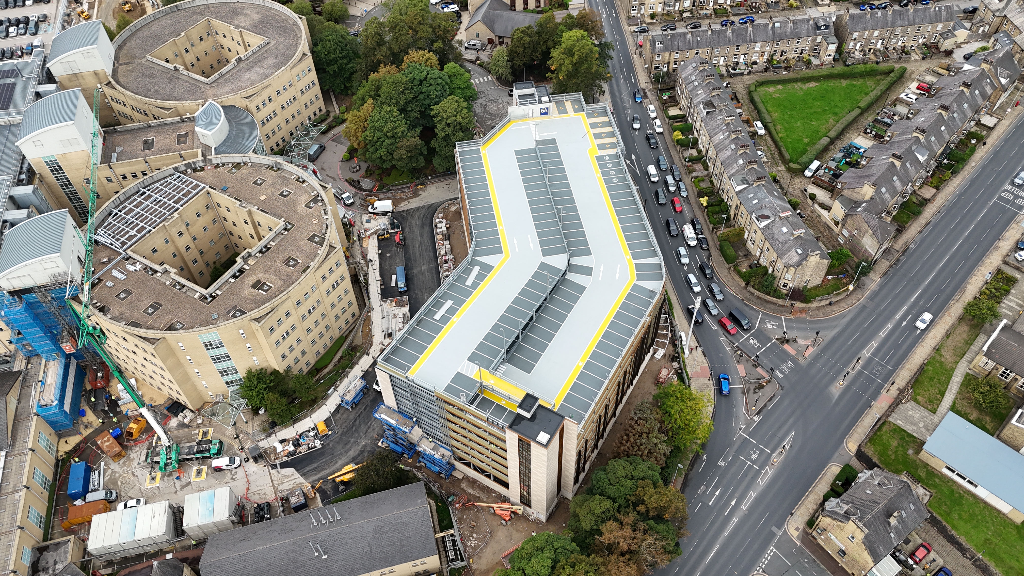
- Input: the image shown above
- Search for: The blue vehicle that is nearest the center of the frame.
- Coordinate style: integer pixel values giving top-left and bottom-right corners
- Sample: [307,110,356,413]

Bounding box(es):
[395,262,408,292]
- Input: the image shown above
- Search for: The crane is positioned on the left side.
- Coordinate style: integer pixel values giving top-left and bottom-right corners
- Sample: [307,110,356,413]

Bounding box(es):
[65,87,224,487]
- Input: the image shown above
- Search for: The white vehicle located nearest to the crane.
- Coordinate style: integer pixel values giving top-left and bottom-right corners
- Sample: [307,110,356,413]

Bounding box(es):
[207,454,243,473]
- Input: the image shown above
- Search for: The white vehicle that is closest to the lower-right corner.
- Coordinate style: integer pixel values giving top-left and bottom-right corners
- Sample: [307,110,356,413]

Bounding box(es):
[915,310,933,330]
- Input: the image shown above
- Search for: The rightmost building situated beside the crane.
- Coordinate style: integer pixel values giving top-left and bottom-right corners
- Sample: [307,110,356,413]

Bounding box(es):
[375,72,664,527]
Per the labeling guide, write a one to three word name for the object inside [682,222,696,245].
vehicle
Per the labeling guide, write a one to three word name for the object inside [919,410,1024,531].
building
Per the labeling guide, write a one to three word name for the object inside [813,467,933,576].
house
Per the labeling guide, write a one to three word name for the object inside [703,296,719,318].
car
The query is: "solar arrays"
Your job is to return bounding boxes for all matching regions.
[0,83,16,110]
[0,69,19,79]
